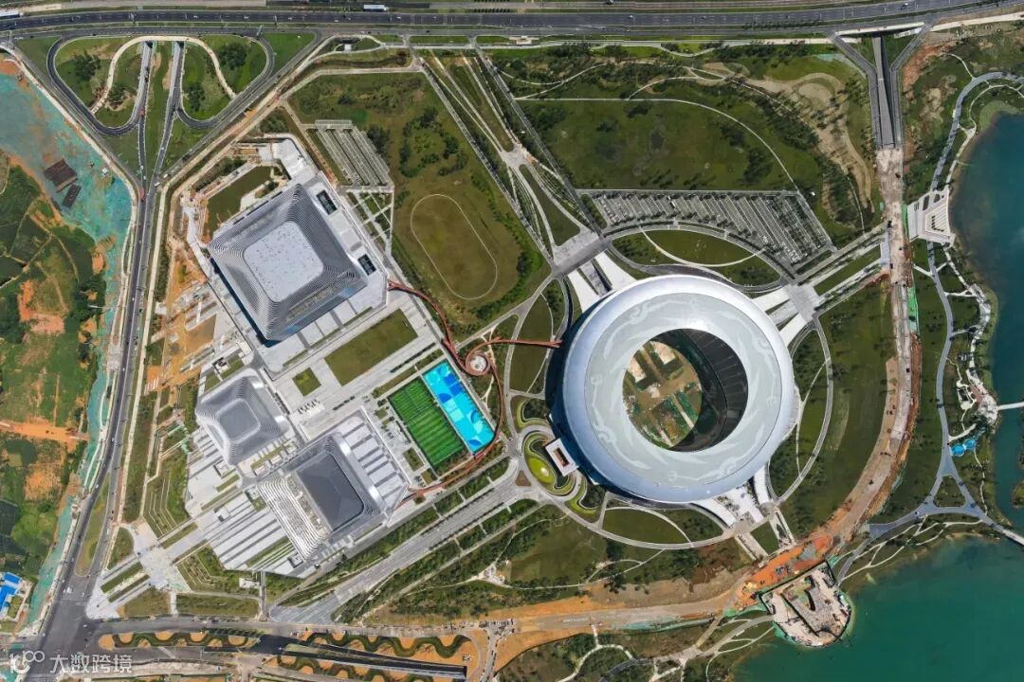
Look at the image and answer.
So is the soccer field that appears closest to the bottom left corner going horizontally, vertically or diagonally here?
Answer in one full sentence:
What the image shows is the soccer field that appears closest to the bottom left corner lying diagonally.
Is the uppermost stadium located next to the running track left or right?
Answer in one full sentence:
It is on the left.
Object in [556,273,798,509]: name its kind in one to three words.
stadium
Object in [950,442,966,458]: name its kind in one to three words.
swimming pool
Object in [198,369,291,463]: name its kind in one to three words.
building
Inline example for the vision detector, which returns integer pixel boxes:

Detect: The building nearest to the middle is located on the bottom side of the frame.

[545,438,578,476]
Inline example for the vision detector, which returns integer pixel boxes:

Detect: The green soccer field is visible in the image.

[385,374,467,471]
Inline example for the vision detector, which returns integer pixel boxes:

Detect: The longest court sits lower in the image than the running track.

[423,362,496,454]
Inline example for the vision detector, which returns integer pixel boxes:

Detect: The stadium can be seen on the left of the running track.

[207,139,388,381]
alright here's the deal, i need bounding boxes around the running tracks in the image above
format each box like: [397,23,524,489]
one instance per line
[409,193,497,300]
